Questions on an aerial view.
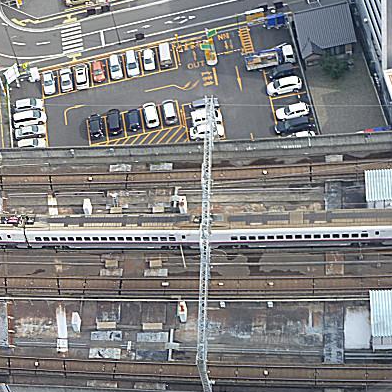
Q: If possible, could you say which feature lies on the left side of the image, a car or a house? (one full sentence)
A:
The one visible on the left side of the image is a car.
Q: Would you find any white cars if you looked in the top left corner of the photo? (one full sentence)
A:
Yes, you'll find a white car in the top left corner of the photo.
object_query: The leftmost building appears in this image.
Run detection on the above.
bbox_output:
[293,1,355,80]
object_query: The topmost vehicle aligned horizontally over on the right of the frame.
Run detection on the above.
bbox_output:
[244,38,295,68]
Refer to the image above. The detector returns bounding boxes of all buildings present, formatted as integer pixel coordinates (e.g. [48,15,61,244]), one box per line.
[349,0,392,126]
[293,1,355,80]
